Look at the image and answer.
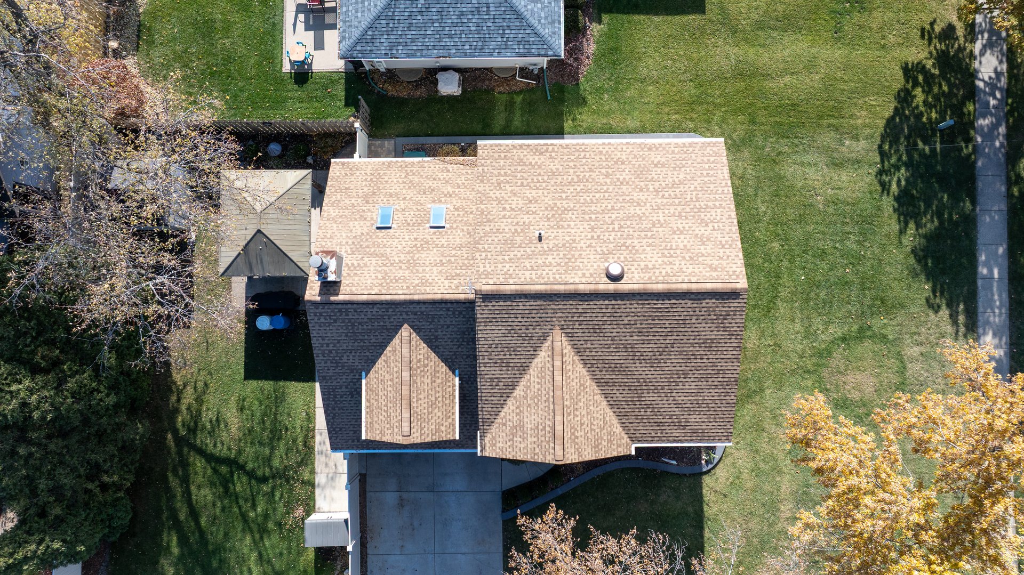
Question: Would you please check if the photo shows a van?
No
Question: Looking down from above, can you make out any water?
No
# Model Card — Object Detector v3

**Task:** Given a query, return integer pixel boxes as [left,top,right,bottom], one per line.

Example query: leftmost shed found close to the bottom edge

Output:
[304,512,348,547]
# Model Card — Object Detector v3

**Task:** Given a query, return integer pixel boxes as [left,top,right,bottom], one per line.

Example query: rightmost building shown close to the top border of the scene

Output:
[335,0,565,99]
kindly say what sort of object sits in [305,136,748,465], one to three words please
house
